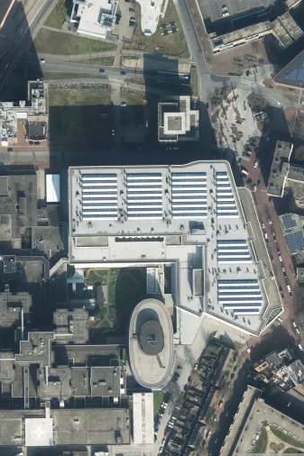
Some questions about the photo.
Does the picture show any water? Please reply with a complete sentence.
No, no water is visible.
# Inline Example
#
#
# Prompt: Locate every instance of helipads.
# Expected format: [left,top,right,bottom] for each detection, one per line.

[25,403,52,451]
